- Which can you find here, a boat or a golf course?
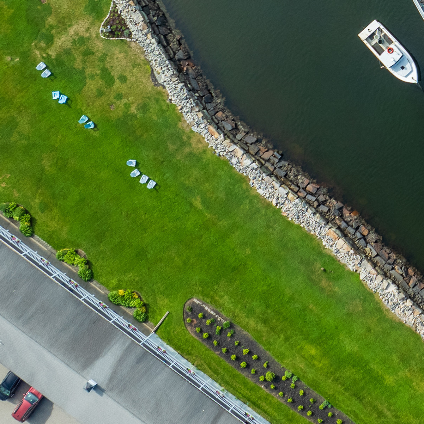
boat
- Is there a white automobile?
No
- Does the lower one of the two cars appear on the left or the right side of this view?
left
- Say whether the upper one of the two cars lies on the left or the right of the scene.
left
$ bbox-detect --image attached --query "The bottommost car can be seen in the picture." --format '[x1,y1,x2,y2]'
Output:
[12,388,43,422]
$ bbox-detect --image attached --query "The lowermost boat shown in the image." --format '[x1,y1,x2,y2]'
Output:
[359,19,421,85]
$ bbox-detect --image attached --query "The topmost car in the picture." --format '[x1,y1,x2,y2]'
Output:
[0,371,21,401]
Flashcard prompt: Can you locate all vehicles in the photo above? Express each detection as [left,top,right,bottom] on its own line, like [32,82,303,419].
[0,371,21,401]
[12,388,43,422]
